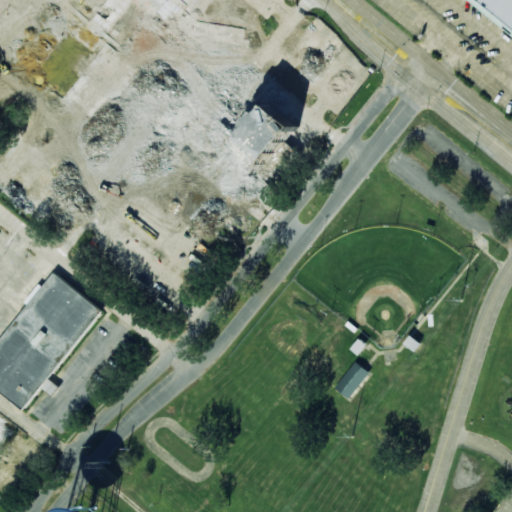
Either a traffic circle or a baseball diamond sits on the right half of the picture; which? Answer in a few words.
baseball diamond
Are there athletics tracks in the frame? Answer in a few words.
Yes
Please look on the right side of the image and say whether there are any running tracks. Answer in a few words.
No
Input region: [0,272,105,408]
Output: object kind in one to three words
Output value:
building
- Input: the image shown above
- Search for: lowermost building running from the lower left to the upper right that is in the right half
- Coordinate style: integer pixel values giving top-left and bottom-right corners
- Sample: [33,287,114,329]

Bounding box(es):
[336,362,369,398]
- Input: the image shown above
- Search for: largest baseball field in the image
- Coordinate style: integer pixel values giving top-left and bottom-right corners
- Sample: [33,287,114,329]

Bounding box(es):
[295,227,466,348]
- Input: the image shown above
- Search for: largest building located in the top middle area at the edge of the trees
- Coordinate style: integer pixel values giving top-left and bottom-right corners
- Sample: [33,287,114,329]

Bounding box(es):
[227,104,300,174]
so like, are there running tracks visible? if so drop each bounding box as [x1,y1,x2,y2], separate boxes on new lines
[146,418,214,482]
